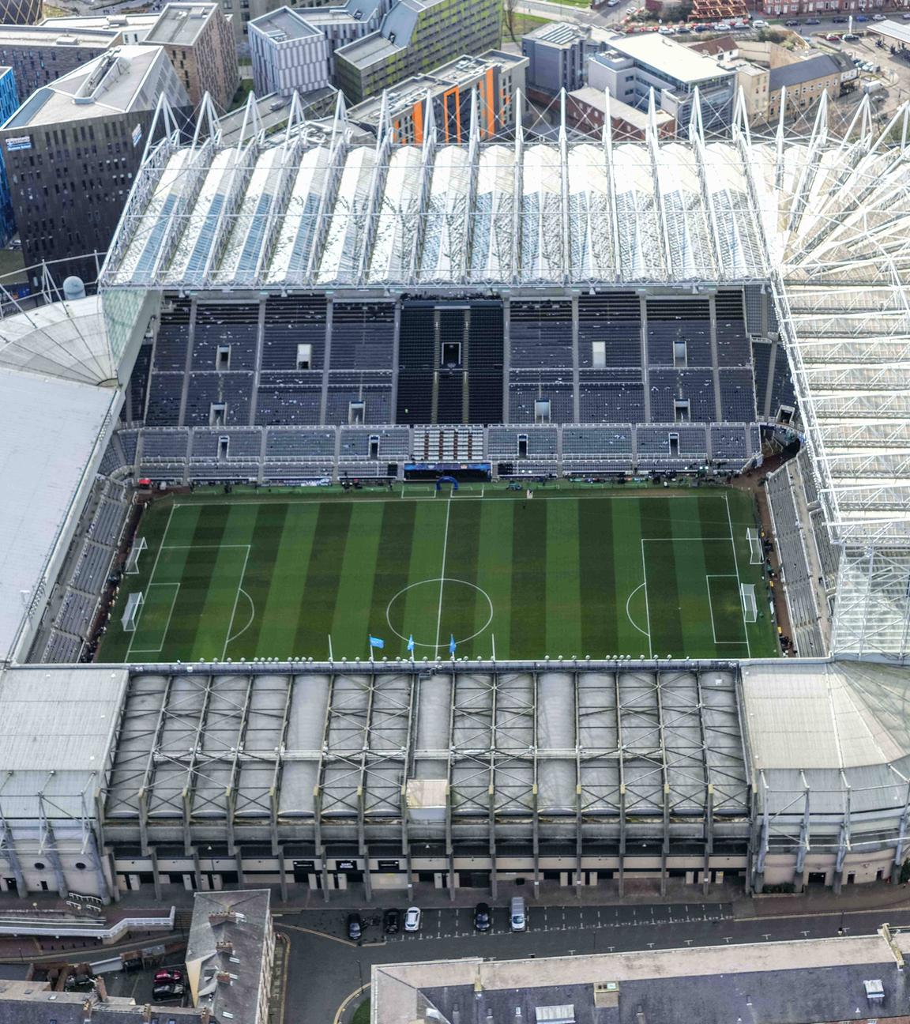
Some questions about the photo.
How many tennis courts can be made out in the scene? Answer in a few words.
0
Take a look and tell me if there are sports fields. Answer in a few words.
Yes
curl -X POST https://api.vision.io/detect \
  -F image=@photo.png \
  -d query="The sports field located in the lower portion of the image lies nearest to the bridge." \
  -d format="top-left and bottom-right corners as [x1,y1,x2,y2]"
[102,494,751,772]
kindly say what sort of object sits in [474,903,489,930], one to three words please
car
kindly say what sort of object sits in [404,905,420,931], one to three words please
car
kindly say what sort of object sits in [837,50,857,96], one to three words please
house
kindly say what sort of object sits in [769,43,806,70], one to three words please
shed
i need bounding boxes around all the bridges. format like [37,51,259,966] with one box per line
[0,906,177,953]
